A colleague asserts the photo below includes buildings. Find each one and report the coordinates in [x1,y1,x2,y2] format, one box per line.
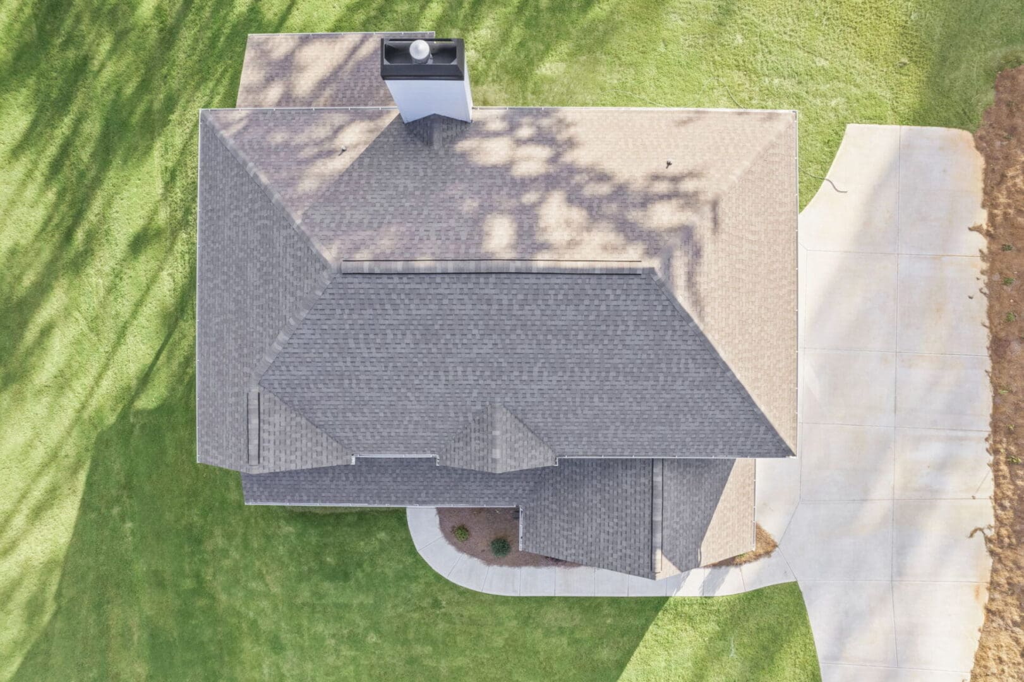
[197,32,799,580]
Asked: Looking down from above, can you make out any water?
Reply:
No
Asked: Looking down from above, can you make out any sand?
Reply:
No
